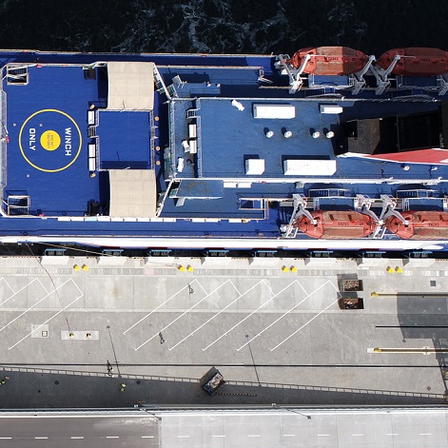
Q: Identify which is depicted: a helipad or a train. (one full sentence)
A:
This aerial view contains a helipad.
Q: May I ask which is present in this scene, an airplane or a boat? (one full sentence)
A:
It is a boat that can be seen here.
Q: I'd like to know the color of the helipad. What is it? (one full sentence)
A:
In this view, the helipad is yellow.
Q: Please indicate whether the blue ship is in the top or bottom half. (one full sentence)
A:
The blue ship sits in the top half of the picture.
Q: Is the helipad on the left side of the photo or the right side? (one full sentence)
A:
It is on the left.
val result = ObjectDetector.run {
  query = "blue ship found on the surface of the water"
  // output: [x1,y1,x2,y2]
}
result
[0,50,448,251]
